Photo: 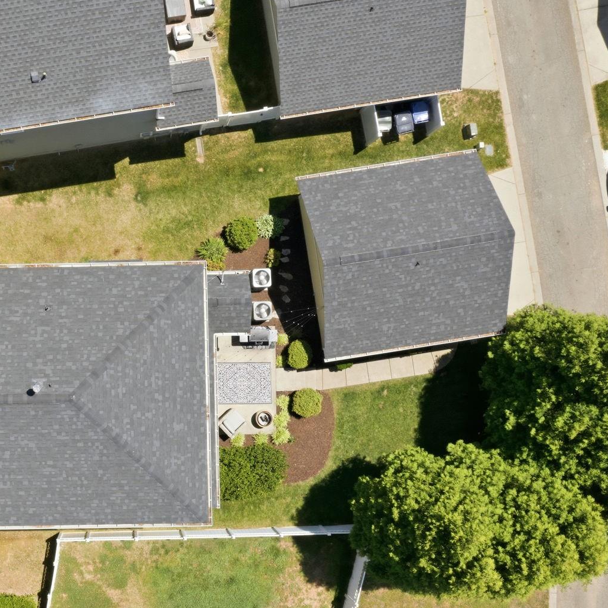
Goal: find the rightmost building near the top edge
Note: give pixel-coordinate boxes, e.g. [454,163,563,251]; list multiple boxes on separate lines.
[260,0,469,120]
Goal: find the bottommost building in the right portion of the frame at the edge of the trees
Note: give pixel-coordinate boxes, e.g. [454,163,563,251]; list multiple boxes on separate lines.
[297,151,517,359]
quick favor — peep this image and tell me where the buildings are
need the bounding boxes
[0,0,219,157]
[297,151,517,359]
[260,0,469,120]
[0,261,254,531]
